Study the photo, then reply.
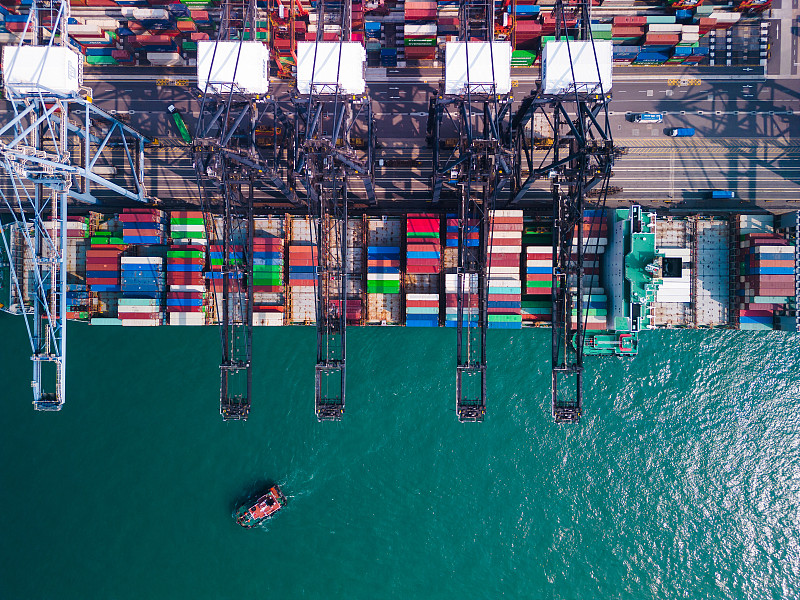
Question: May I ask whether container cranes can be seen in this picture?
Yes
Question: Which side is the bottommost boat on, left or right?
left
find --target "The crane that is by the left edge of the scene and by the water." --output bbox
[0,0,170,415]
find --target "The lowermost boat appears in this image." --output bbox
[237,485,288,524]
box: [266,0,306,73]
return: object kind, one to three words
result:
container crane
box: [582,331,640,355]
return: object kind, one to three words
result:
vessel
